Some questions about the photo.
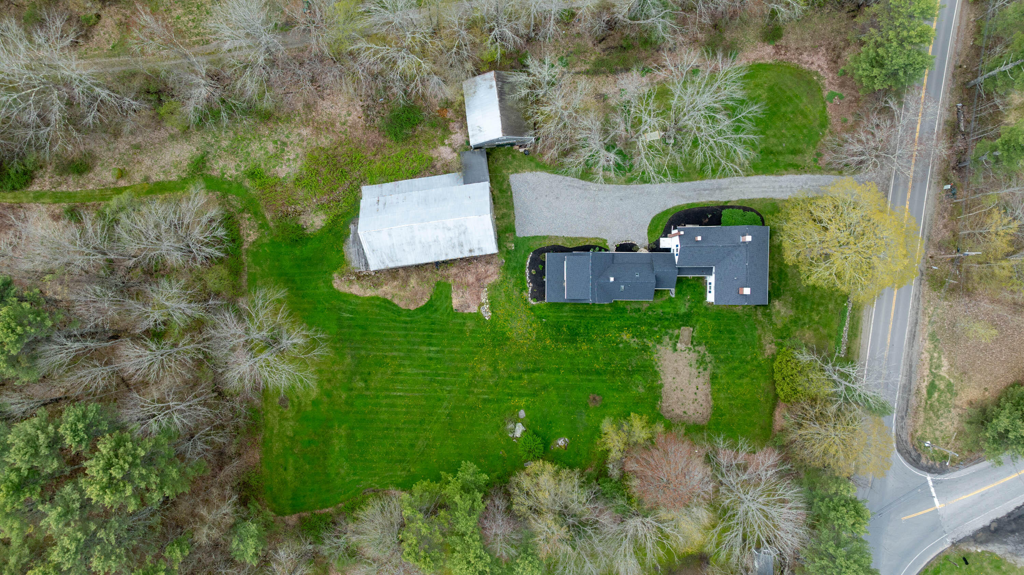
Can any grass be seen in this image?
Yes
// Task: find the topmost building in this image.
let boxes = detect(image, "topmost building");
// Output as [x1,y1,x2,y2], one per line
[462,70,534,149]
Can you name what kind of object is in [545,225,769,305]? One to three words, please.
house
